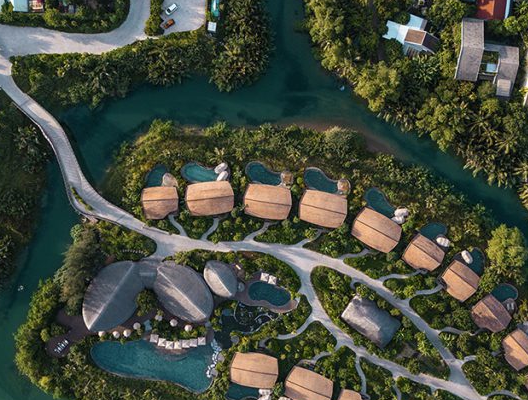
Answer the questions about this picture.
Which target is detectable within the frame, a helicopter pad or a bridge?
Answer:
bridge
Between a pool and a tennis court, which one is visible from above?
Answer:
pool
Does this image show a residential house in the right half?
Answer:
Yes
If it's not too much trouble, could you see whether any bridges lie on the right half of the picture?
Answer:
No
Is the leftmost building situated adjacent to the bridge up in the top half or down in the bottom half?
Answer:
bottom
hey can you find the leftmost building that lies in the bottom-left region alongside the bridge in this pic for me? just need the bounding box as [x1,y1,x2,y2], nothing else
[82,261,141,332]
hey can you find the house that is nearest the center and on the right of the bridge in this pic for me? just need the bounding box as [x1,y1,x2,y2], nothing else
[244,185,292,220]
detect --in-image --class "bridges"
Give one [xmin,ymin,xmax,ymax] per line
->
[28,103,166,250]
